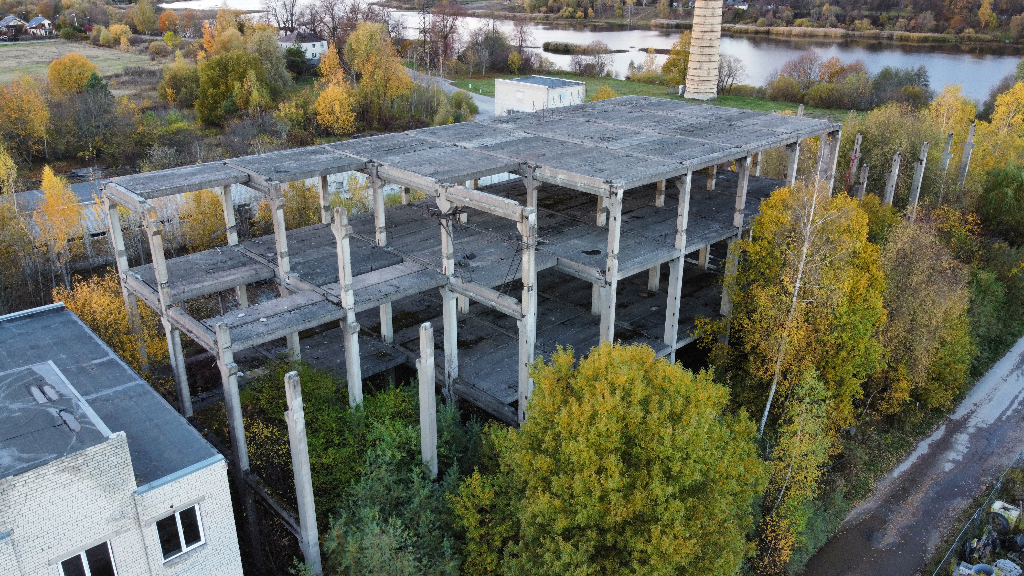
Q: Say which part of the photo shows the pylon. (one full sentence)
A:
Look in the top portion of the view to spot the pylon.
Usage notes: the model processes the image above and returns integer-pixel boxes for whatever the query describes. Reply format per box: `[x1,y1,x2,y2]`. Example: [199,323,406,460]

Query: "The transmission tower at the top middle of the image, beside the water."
[405,0,437,78]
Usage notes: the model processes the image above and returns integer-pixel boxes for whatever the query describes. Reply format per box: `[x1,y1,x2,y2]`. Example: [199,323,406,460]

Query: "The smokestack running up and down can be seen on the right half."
[684,0,722,102]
